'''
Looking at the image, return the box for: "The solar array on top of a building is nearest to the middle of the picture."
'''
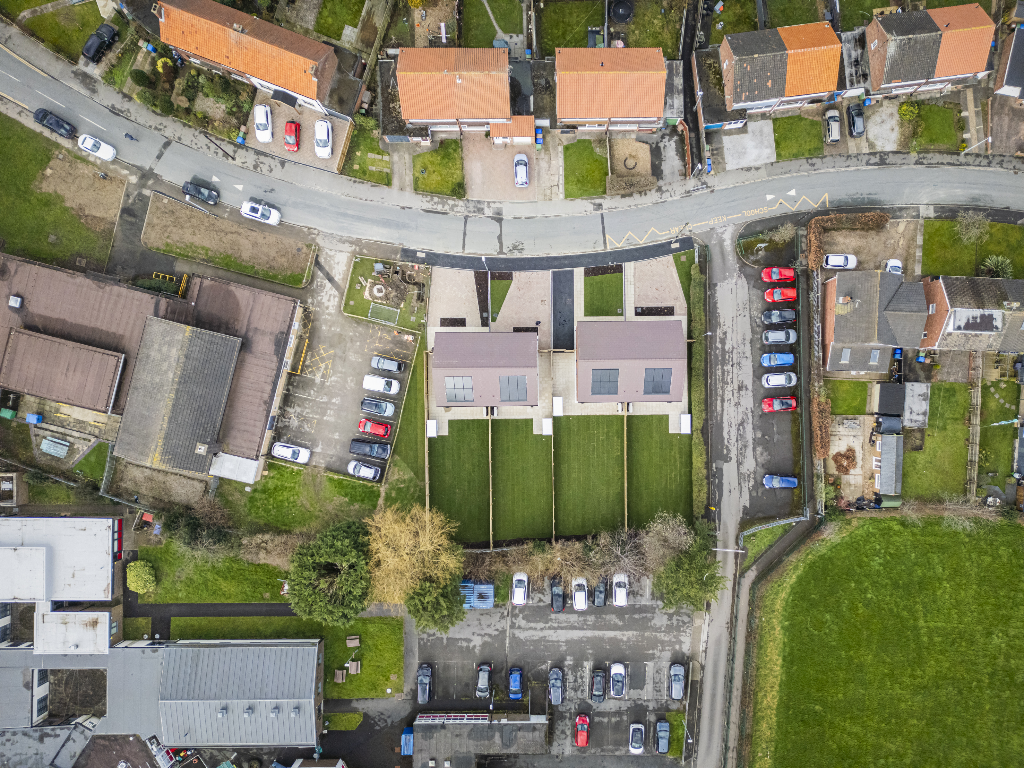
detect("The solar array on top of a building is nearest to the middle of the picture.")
[498,376,527,401]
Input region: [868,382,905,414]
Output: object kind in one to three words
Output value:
shed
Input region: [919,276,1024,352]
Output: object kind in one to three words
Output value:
house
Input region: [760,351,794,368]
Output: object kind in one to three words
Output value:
car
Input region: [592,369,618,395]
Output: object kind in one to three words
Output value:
solar array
